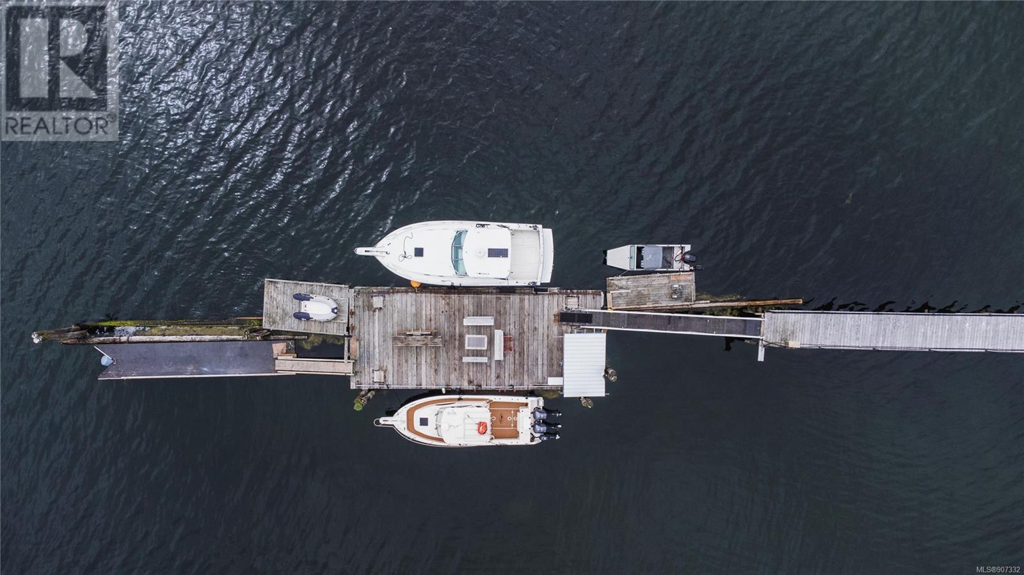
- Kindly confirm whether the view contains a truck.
No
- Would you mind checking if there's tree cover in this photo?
No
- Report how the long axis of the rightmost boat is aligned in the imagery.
from side to side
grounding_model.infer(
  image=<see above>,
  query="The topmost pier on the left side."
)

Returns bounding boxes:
[263,279,350,336]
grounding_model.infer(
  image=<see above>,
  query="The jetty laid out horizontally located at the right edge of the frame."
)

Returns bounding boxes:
[742,310,1024,361]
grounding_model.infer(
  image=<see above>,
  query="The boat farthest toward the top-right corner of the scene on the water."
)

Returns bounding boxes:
[601,245,707,270]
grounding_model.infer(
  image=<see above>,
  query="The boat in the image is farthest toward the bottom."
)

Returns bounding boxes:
[373,394,564,449]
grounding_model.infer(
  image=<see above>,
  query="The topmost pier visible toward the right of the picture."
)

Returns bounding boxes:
[606,272,695,309]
